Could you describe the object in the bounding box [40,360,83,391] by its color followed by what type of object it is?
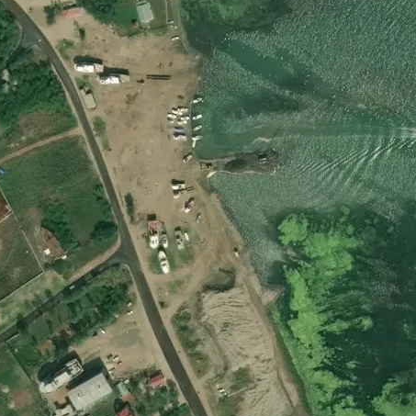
white ship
